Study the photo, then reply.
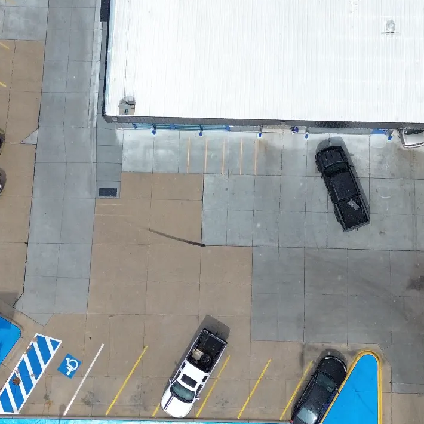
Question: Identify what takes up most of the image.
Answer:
paved ground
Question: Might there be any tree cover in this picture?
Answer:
No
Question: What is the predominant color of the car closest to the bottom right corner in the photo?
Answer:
black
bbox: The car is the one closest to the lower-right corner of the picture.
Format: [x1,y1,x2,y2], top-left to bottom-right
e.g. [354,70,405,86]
[289,354,346,424]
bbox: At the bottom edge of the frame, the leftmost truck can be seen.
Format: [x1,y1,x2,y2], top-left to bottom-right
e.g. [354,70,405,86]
[164,328,229,423]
